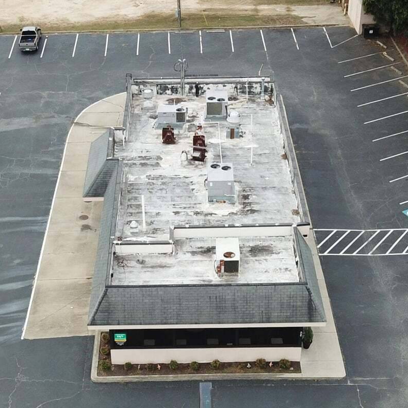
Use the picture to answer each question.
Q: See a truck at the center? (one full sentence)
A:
No, looking at the center, there is no truck.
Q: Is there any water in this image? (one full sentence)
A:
No, the scene doesn't show any water.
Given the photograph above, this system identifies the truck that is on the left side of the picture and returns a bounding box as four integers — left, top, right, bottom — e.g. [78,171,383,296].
[17,21,47,47]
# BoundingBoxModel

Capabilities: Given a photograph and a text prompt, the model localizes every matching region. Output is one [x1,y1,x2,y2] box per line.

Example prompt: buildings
[82,57,327,364]
[348,0,377,34]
